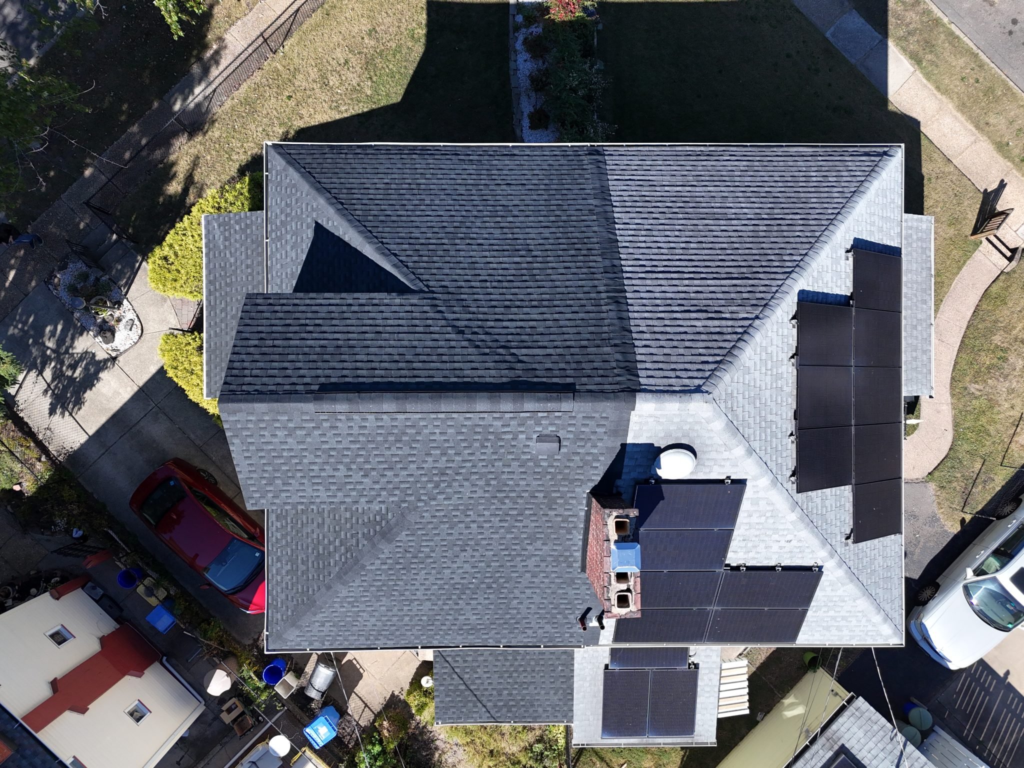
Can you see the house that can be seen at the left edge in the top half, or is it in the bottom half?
bottom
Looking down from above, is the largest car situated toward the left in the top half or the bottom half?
bottom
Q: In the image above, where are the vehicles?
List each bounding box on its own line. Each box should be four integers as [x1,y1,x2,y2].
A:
[131,454,264,607]
[905,482,1024,661]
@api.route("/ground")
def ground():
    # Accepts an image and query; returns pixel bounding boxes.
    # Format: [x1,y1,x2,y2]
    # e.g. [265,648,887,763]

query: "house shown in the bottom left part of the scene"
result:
[0,592,205,768]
